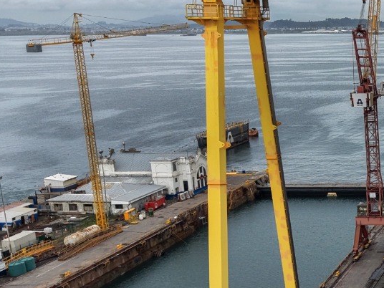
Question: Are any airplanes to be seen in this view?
No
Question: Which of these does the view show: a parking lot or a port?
port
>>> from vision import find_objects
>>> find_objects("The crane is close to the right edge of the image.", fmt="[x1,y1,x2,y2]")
[349,0,384,259]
